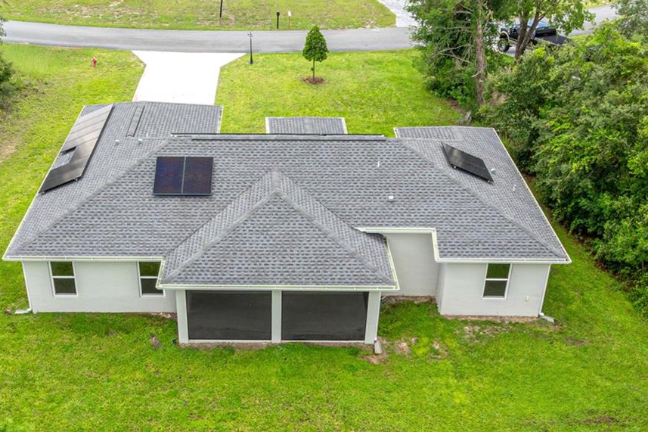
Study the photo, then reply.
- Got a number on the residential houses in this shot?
1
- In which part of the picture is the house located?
center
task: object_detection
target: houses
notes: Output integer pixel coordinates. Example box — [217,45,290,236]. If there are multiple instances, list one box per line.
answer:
[2,101,572,346]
